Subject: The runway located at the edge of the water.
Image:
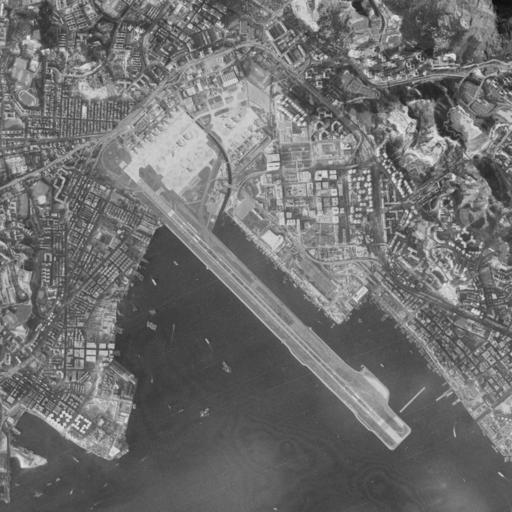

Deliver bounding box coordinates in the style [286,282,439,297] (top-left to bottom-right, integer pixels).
[132,176,402,444]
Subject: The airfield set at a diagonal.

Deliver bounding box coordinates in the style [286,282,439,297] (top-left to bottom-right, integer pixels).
[101,100,409,448]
